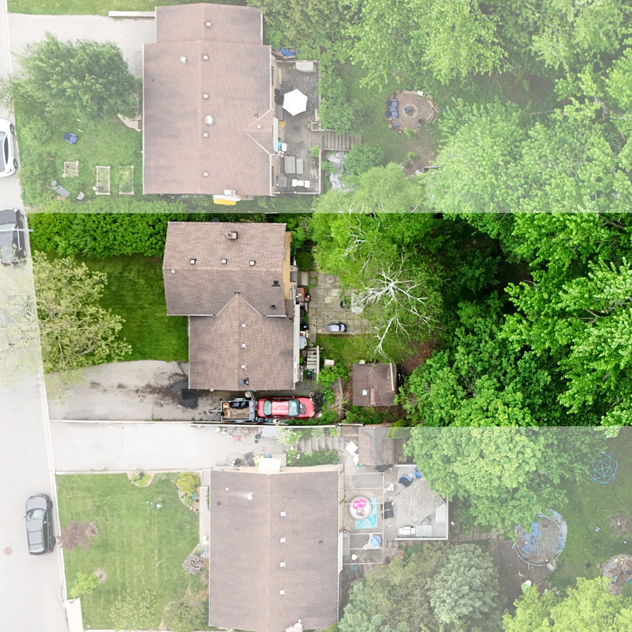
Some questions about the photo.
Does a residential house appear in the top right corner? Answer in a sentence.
No, I see no residential house in the top right corner.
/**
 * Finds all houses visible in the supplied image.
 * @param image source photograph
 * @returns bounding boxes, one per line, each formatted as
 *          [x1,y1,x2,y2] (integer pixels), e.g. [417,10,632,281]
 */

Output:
[136,0,282,201]
[162,221,302,393]
[209,459,351,632]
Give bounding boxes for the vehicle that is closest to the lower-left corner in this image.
[22,494,60,558]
